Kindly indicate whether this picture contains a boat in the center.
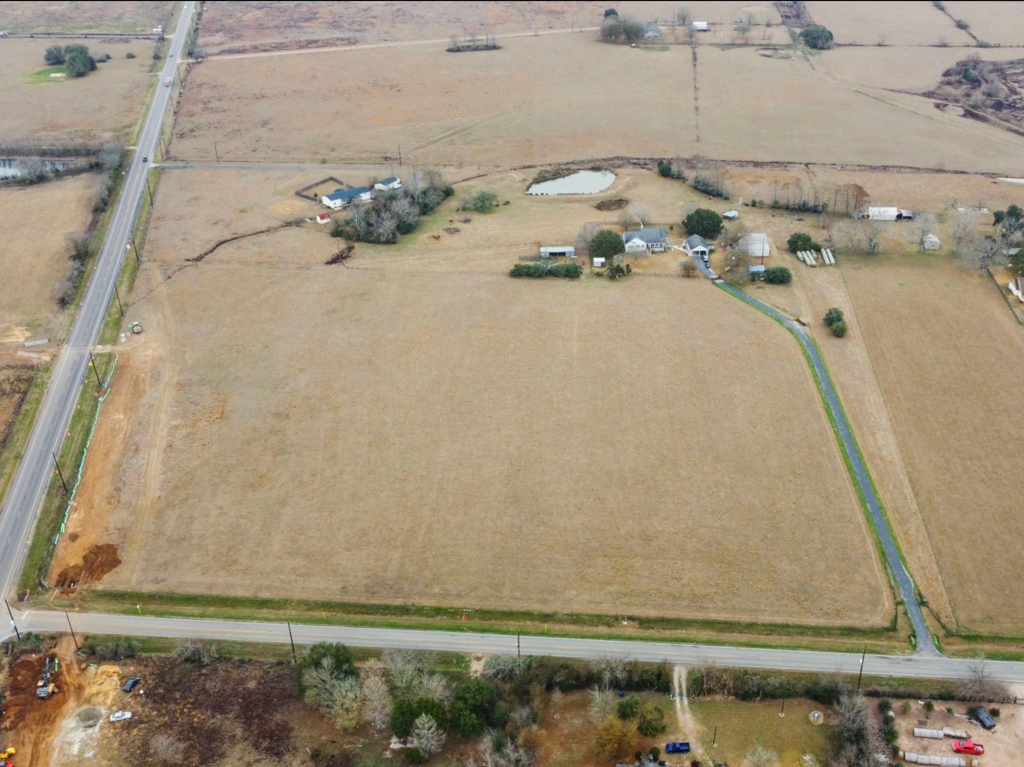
No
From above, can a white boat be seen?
No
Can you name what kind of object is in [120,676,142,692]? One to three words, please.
car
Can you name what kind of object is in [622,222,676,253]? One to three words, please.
house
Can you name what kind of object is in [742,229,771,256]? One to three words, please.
building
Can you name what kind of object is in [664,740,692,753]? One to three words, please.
vehicle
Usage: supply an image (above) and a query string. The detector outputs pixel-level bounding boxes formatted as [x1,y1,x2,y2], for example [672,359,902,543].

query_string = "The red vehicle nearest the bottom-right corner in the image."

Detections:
[951,739,987,754]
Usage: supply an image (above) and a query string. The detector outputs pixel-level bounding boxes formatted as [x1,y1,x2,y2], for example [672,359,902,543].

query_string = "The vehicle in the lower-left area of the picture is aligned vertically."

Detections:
[35,659,53,701]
